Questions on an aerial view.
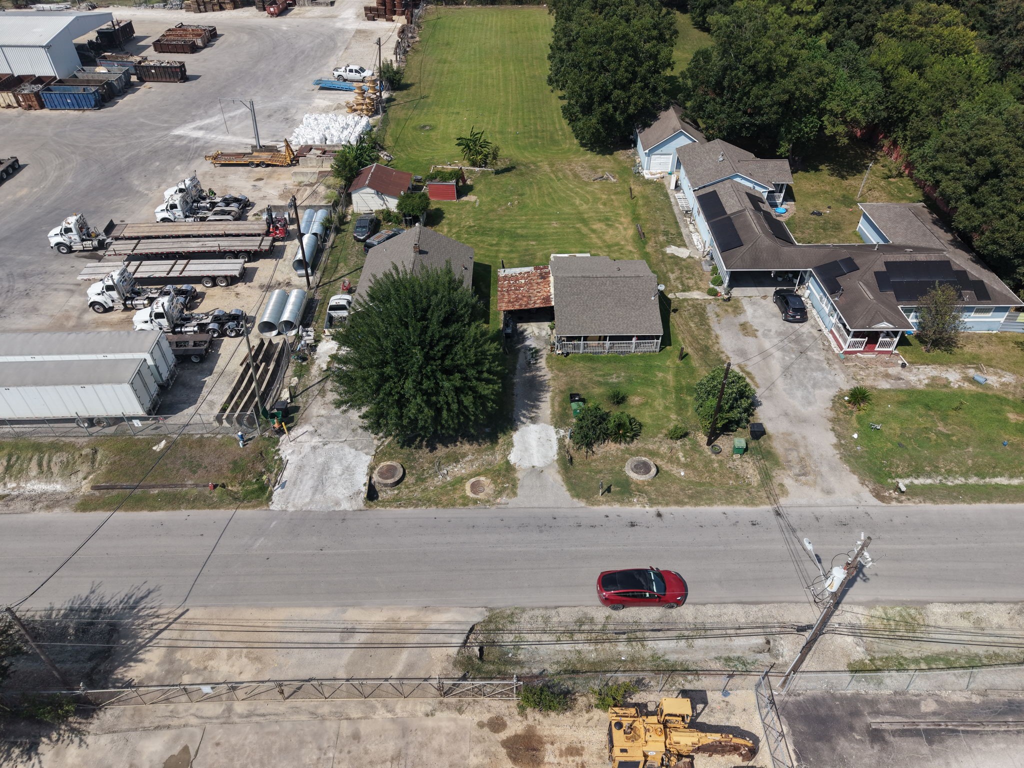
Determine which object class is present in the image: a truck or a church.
truck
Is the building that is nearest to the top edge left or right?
left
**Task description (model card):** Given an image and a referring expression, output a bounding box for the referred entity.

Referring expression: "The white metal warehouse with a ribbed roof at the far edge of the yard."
[0,11,115,77]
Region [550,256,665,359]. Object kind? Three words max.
house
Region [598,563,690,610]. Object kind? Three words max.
car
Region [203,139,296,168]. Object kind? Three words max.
trailer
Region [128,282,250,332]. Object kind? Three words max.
truck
